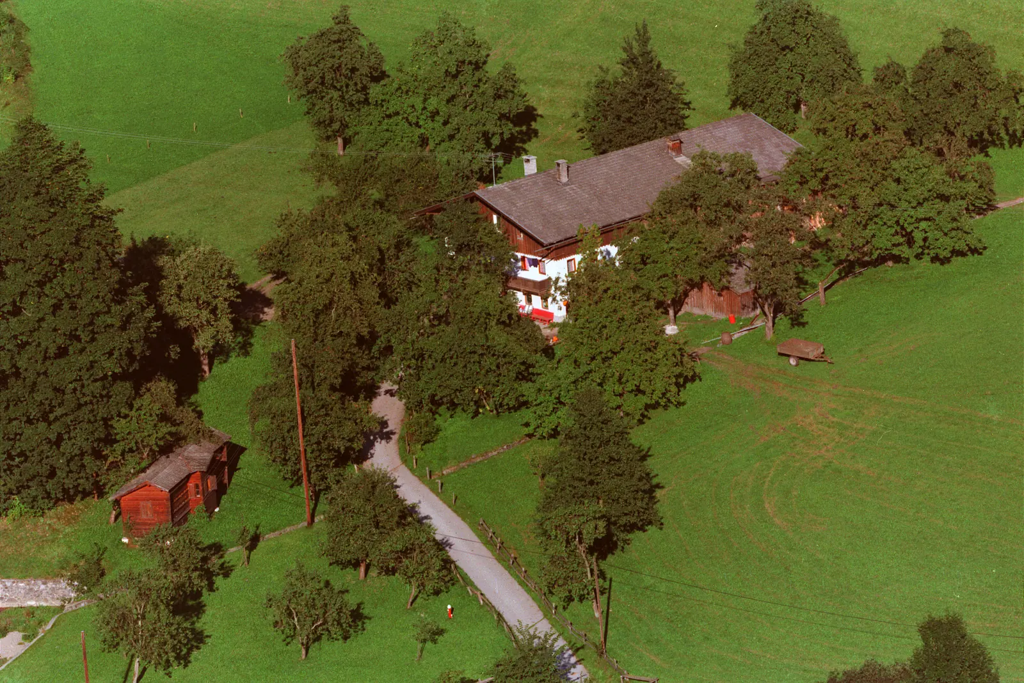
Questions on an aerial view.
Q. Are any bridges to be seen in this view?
No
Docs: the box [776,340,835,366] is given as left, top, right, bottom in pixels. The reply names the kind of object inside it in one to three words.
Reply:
trailer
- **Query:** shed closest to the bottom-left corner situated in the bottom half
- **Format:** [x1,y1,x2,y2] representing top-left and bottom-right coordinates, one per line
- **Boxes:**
[106,430,242,537]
